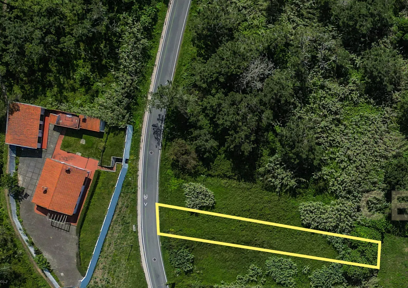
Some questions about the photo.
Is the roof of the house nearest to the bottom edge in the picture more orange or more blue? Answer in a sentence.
The roof of the house nearest to the bottom edge is orange.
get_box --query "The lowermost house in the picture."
[32,157,96,215]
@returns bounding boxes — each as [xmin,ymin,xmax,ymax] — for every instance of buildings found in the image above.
[32,157,96,215]
[4,101,54,151]
[49,113,109,133]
